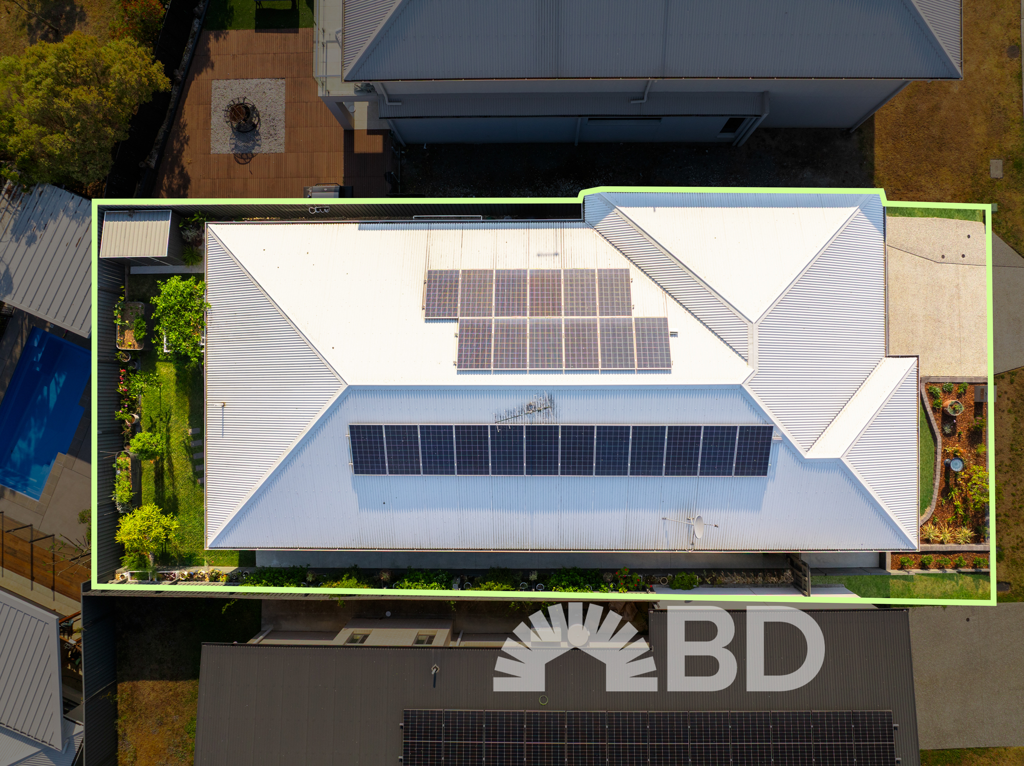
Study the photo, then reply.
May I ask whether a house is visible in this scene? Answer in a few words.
Yes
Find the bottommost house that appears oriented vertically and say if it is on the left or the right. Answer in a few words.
left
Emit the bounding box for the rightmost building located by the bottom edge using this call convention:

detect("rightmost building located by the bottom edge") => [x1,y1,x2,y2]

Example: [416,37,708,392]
[194,588,918,766]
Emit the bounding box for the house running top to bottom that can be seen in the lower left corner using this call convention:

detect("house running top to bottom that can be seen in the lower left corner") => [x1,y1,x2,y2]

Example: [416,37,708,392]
[0,589,88,766]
